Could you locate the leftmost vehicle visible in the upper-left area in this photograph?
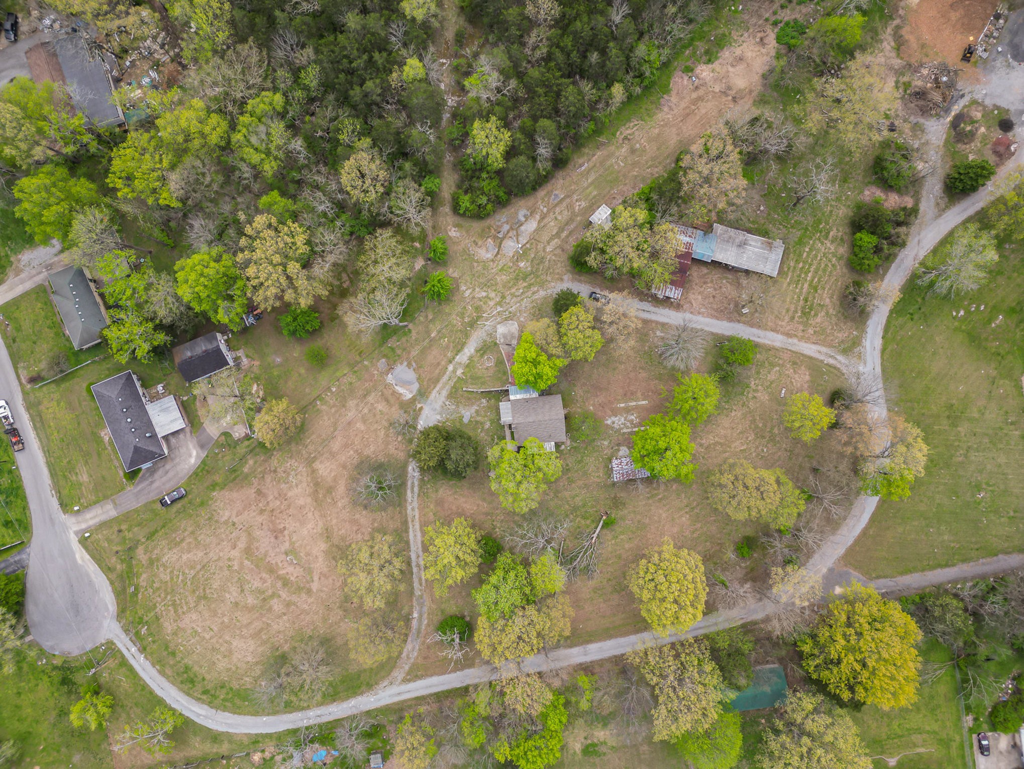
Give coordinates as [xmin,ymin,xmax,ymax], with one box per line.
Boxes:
[3,13,19,44]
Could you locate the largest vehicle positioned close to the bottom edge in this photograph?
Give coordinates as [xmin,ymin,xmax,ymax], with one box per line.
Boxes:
[975,732,989,755]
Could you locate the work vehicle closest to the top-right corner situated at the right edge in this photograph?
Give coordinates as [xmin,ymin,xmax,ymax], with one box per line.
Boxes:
[956,44,976,67]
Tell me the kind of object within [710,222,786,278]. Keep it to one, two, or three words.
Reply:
barn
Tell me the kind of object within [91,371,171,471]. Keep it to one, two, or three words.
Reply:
house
